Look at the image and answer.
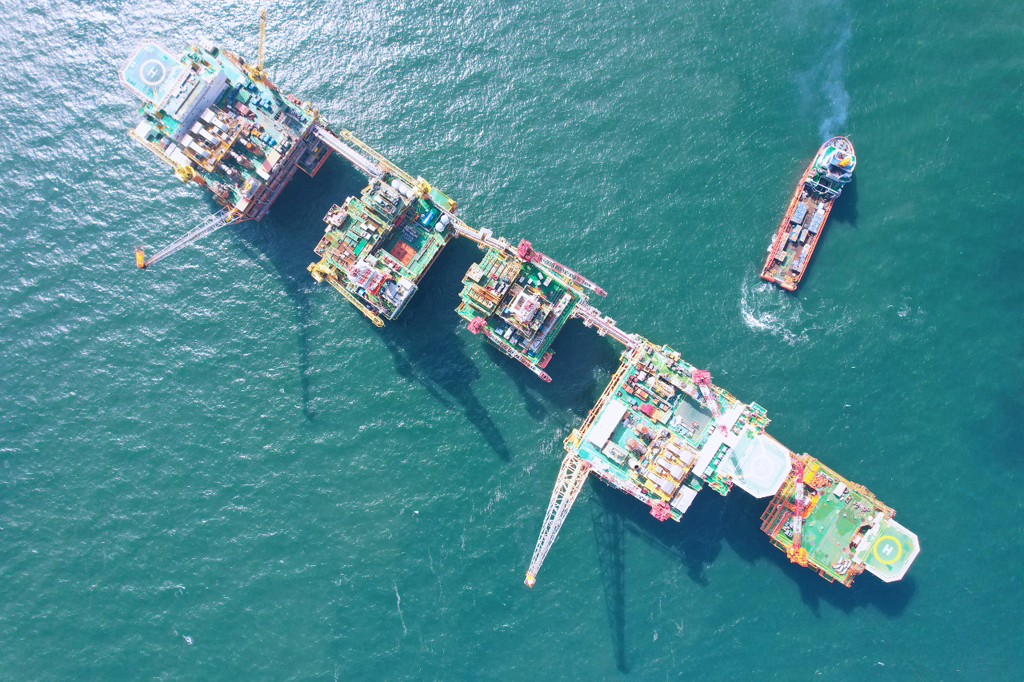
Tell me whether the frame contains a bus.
No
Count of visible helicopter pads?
3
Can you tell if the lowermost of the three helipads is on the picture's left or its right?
right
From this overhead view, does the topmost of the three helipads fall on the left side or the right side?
left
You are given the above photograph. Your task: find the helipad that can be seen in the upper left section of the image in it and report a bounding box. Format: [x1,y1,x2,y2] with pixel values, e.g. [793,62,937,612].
[118,38,193,111]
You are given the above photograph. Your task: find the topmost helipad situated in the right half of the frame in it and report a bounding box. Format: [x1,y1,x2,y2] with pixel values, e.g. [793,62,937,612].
[715,429,792,499]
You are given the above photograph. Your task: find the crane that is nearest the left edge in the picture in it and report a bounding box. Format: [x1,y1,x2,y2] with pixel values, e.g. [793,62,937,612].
[127,129,210,187]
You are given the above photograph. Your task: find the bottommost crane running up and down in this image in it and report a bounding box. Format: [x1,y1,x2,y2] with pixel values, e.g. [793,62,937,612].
[777,458,806,566]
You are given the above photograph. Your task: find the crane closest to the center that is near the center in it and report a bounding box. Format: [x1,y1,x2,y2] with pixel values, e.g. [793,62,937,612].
[464,312,553,382]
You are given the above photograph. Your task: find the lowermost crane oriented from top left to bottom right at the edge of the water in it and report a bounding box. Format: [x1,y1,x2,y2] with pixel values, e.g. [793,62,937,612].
[587,461,677,521]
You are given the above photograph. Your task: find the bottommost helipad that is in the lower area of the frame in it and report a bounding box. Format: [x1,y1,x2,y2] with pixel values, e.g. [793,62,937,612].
[852,513,920,583]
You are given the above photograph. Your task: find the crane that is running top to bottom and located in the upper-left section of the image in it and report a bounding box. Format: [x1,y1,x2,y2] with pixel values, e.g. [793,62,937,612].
[247,10,280,95]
